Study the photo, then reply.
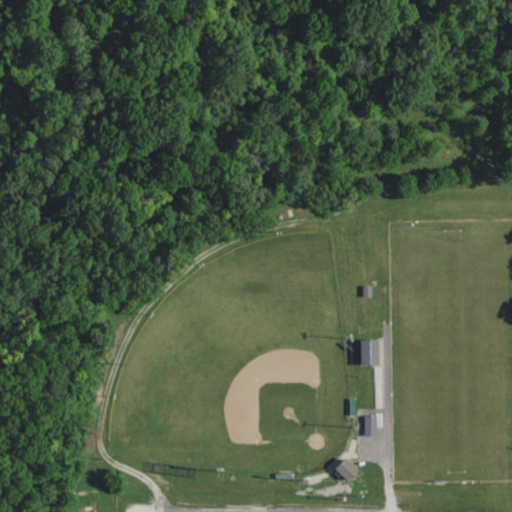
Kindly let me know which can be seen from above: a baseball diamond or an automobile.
baseball diamond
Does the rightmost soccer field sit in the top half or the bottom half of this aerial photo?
bottom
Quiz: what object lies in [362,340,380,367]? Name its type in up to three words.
building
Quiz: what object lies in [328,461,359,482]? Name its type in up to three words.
building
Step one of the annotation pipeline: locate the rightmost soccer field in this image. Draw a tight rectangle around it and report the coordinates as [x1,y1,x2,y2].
[388,218,512,484]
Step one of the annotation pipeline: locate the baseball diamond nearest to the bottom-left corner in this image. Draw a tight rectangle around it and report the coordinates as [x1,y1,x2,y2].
[110,231,348,468]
